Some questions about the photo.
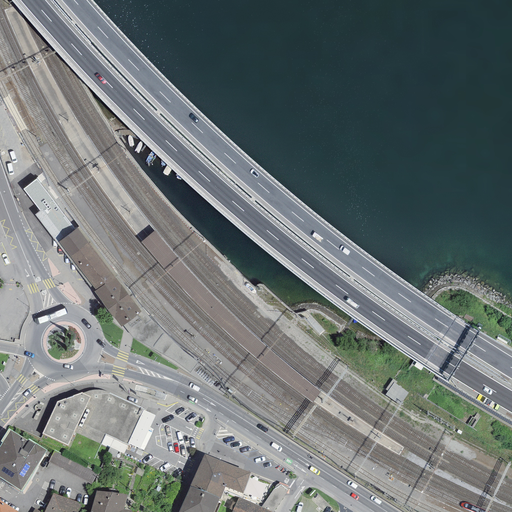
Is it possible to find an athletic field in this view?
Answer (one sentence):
No, the frame has no athletic field in it.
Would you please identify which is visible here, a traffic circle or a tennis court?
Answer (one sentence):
There is a traffic circle in the scene.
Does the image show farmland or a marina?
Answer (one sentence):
This image shows a marina.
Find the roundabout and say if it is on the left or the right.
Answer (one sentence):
The roundabout appears in the left half of the scene.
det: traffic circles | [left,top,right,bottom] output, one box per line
[22,300,104,382]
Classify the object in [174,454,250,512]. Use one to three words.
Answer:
house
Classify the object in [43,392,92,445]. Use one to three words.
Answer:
building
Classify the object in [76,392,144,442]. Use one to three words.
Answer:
building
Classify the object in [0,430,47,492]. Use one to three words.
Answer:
house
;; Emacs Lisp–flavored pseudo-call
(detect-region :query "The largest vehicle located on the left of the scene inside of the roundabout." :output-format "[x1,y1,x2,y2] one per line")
[36,307,68,324]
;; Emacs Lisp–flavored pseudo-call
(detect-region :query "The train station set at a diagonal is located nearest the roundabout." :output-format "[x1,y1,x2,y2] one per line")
[57,228,140,326]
